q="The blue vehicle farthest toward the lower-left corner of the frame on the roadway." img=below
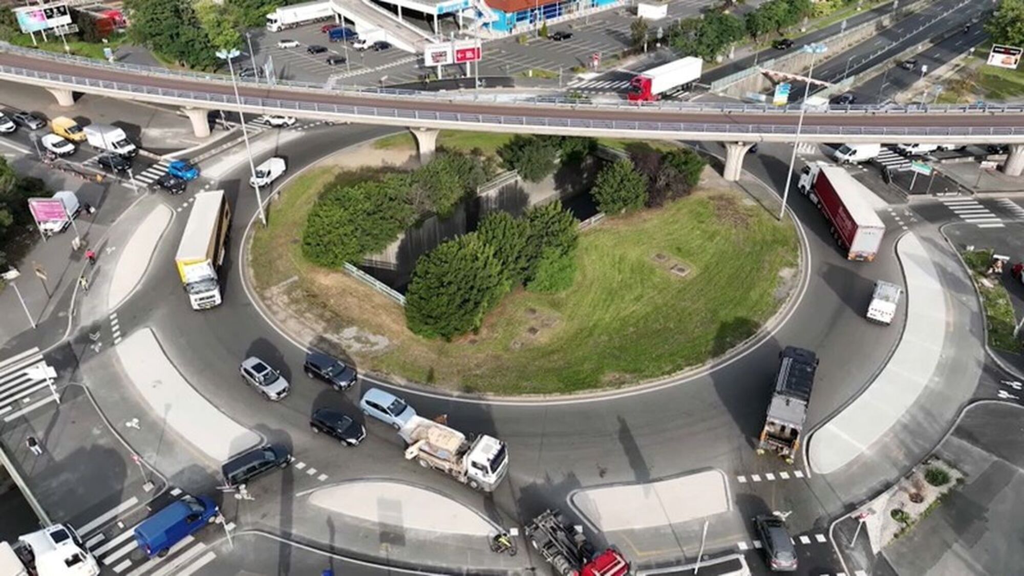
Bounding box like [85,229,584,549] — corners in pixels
[134,494,218,554]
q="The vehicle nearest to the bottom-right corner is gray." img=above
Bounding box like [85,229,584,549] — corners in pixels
[755,514,798,572]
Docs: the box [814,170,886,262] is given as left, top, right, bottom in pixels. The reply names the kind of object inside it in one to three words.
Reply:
trailer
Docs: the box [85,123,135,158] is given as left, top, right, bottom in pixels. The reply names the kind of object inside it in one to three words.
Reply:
van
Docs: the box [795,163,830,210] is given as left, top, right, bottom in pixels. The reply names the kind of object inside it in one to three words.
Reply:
vehicle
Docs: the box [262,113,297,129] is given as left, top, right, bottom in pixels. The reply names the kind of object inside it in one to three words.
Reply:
car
